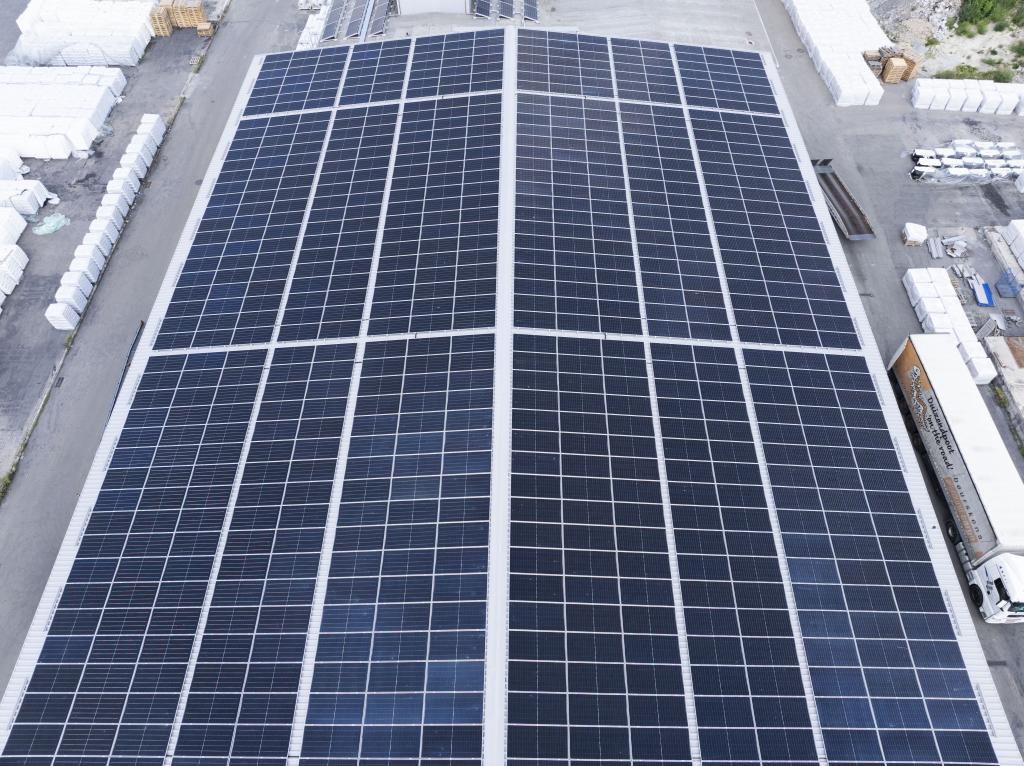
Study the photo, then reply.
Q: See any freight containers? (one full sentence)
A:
Yes, this view includes a freight container.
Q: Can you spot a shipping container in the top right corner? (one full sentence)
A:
Yes, in the top right corner there is a shipping container.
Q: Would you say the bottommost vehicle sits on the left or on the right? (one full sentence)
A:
The bottommost vehicle sits on the right side.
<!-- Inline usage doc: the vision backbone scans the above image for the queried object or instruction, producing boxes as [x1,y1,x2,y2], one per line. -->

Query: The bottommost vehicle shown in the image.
[885,333,1024,623]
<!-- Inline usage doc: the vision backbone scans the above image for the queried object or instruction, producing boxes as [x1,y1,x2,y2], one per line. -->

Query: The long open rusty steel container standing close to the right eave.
[811,163,873,245]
